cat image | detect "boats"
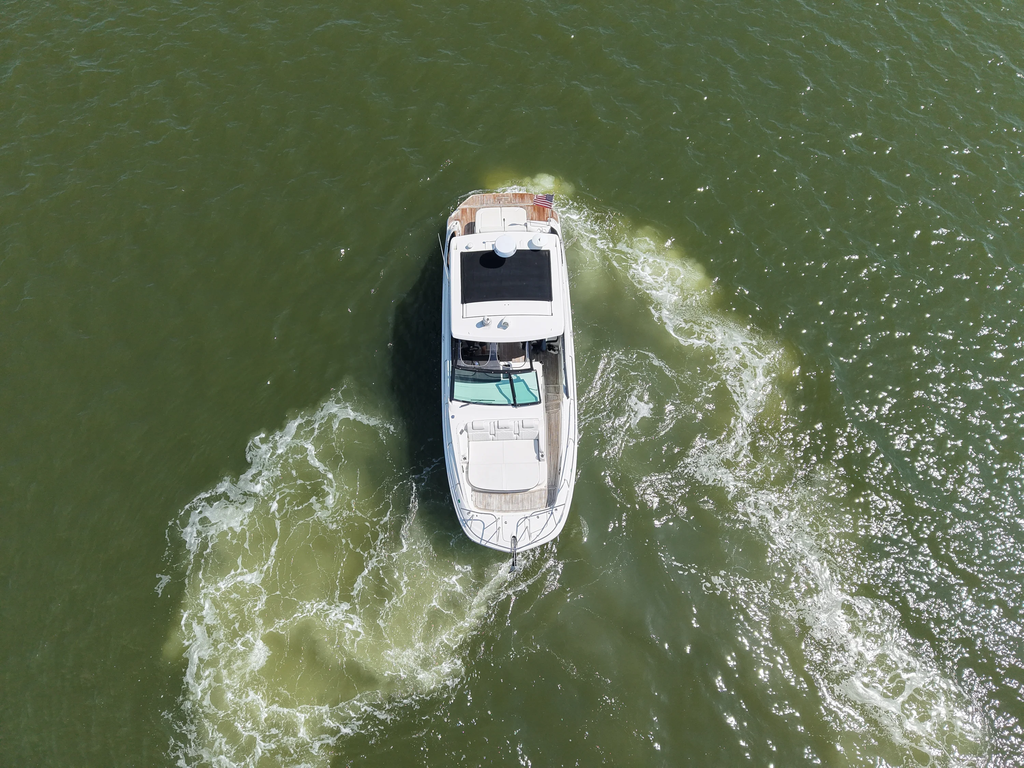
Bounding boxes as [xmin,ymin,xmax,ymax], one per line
[438,193,578,561]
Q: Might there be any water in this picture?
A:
Yes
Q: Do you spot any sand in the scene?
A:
No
